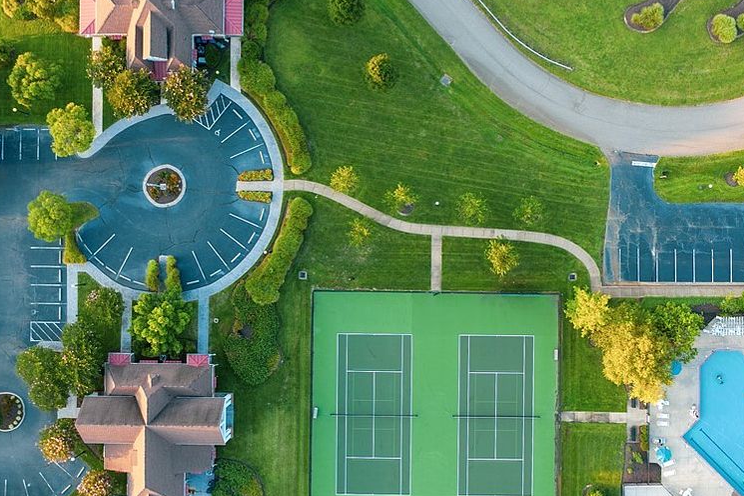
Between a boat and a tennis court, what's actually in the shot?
tennis court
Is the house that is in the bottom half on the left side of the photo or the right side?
left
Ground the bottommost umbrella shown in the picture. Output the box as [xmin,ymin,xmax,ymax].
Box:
[654,446,670,462]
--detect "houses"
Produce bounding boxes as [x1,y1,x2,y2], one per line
[79,0,246,84]
[73,353,234,496]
